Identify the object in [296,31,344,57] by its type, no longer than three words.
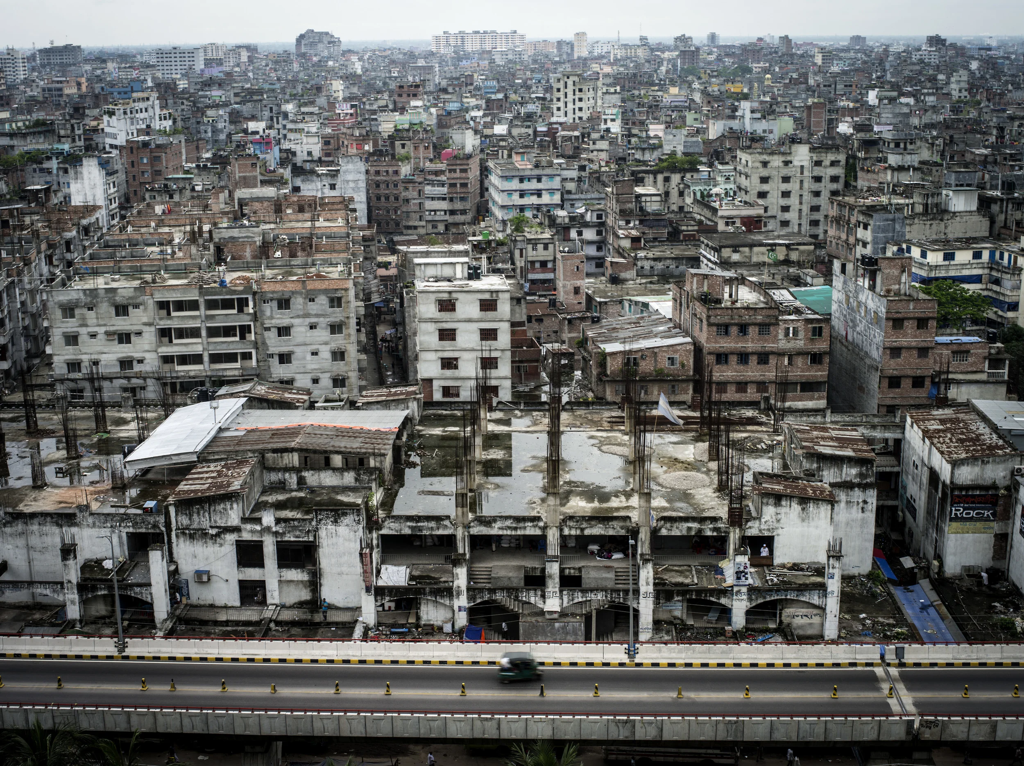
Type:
building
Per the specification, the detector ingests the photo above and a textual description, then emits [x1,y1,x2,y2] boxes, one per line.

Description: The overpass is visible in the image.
[0,633,1024,766]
